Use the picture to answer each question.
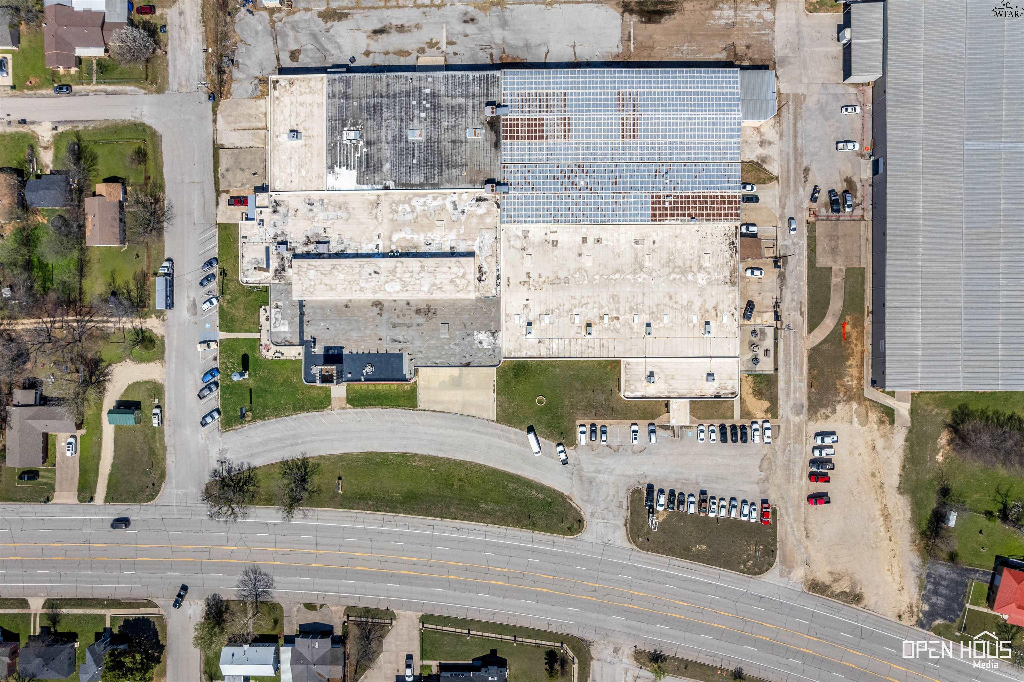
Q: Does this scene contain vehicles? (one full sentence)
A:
Yes, the picture does show a vehicle.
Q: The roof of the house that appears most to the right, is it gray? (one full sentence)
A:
No, the roof of the house that appears most to the right is red.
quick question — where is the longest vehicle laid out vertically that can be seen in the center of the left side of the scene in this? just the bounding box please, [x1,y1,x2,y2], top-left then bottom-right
[156,260,172,309]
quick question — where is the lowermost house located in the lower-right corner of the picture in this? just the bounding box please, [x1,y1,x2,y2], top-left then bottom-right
[983,555,1024,623]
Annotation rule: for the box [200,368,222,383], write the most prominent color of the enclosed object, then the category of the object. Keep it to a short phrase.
blue vehicle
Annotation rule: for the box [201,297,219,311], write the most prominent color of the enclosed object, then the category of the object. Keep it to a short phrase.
white car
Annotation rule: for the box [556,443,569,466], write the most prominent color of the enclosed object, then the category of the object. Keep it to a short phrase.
white vehicle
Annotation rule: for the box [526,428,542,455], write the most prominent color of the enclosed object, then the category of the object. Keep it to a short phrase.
white vehicle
